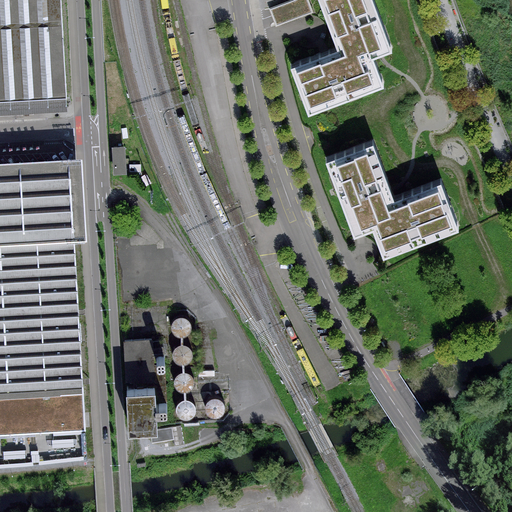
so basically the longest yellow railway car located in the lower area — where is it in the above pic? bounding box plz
[297,346,320,387]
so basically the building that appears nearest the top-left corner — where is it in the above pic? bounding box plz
[0,0,68,114]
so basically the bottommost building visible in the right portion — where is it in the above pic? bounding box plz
[326,141,457,260]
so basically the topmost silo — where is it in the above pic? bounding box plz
[171,314,192,338]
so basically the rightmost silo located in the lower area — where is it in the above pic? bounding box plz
[205,394,224,418]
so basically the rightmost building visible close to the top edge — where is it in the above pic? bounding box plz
[294,0,392,114]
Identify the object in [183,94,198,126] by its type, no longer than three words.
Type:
rail car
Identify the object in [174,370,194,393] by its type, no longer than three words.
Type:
silo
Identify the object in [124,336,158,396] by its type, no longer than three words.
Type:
building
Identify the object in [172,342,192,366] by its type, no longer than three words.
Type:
silo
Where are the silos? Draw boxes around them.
[171,314,192,338]
[176,397,196,421]
[174,370,194,393]
[172,342,192,366]
[205,394,224,418]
